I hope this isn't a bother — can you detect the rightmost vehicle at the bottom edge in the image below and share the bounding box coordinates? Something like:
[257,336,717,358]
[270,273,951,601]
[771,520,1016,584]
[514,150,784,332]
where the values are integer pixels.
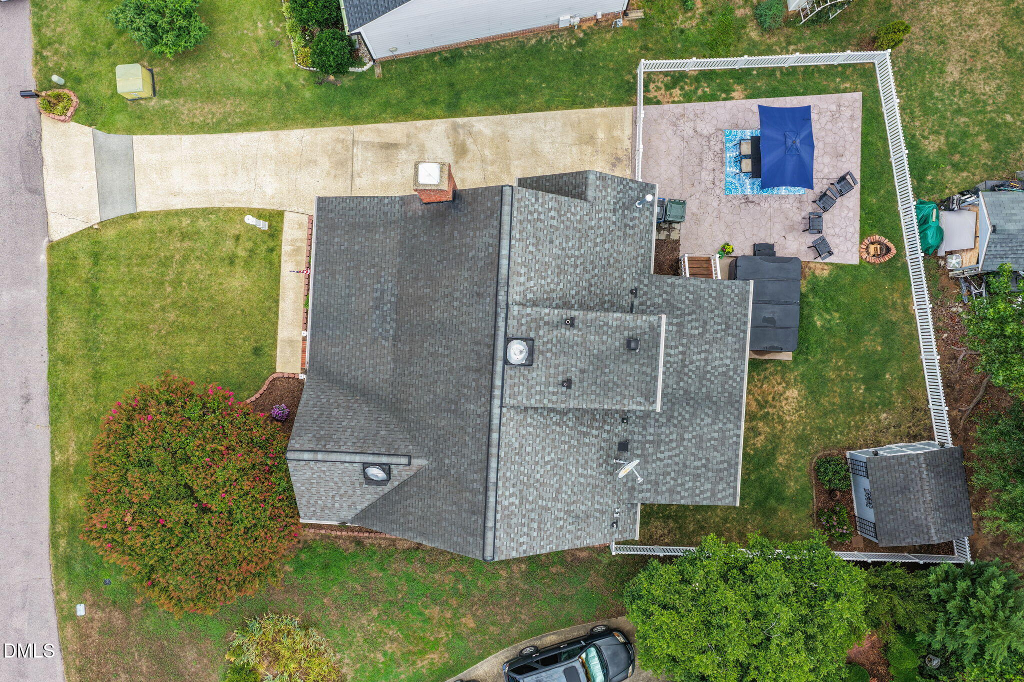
[505,625,639,682]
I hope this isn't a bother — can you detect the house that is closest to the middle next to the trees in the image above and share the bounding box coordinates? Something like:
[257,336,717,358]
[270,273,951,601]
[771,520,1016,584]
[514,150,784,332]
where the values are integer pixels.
[284,162,754,562]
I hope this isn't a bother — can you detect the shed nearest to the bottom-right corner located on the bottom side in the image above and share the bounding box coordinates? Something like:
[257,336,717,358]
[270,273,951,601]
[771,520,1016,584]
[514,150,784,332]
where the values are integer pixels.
[846,440,974,547]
